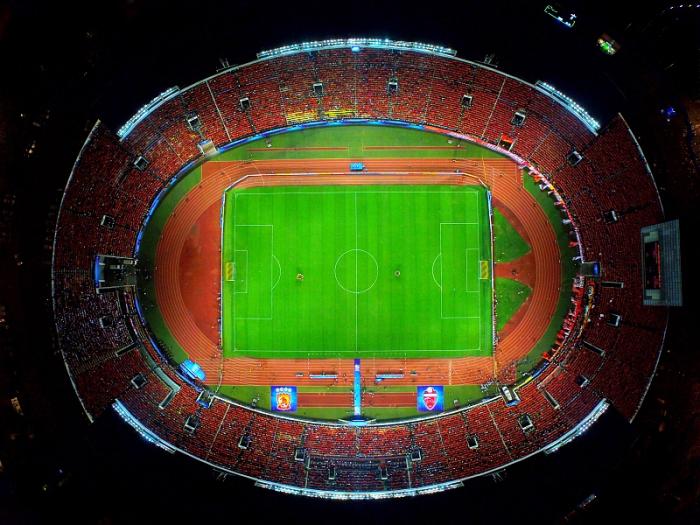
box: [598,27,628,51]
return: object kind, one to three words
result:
shed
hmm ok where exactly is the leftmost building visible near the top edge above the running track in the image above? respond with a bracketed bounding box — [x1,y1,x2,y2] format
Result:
[542,1,577,31]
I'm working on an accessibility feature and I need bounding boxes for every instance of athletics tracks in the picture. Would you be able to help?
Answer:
[154,159,561,386]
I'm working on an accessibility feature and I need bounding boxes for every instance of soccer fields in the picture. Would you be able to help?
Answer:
[224,185,491,358]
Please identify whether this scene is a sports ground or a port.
sports ground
